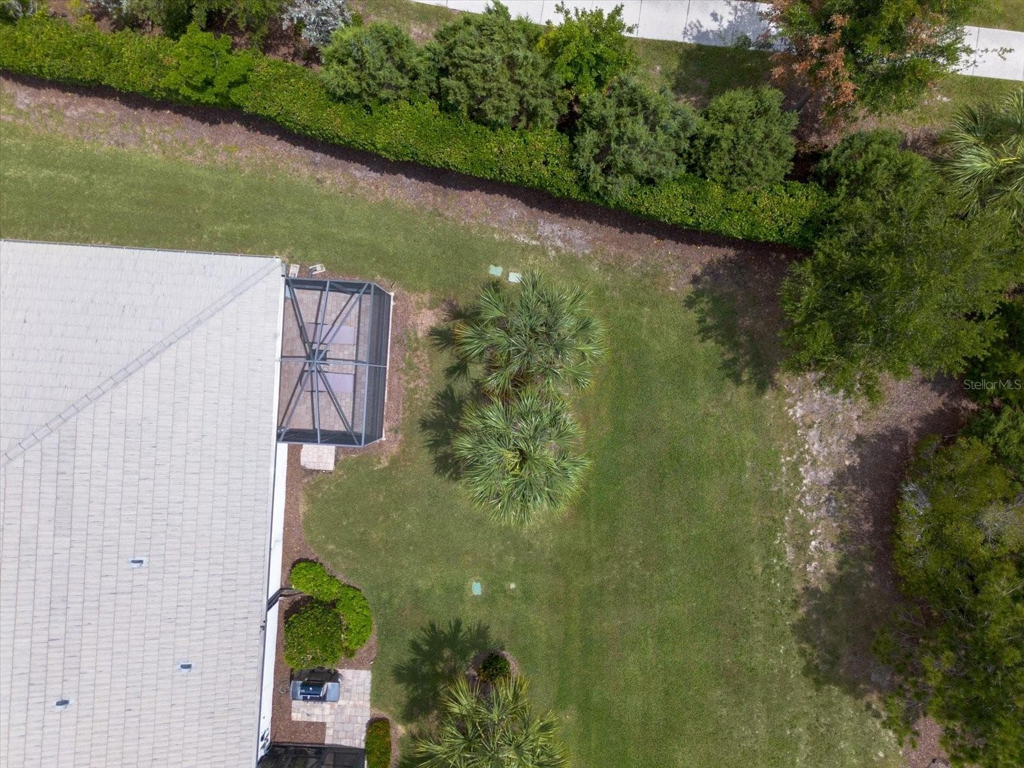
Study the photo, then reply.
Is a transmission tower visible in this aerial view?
No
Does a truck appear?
No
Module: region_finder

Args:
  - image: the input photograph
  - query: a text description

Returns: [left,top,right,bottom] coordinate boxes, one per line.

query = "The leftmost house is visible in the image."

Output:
[0,239,300,768]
